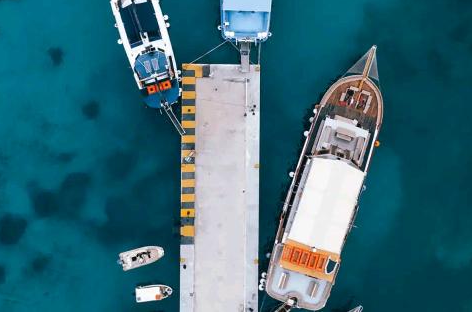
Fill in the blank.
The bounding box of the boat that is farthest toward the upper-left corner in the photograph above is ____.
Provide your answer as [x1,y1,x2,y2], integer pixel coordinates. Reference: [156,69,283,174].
[111,0,186,136]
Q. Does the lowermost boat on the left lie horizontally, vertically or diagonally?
horizontally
